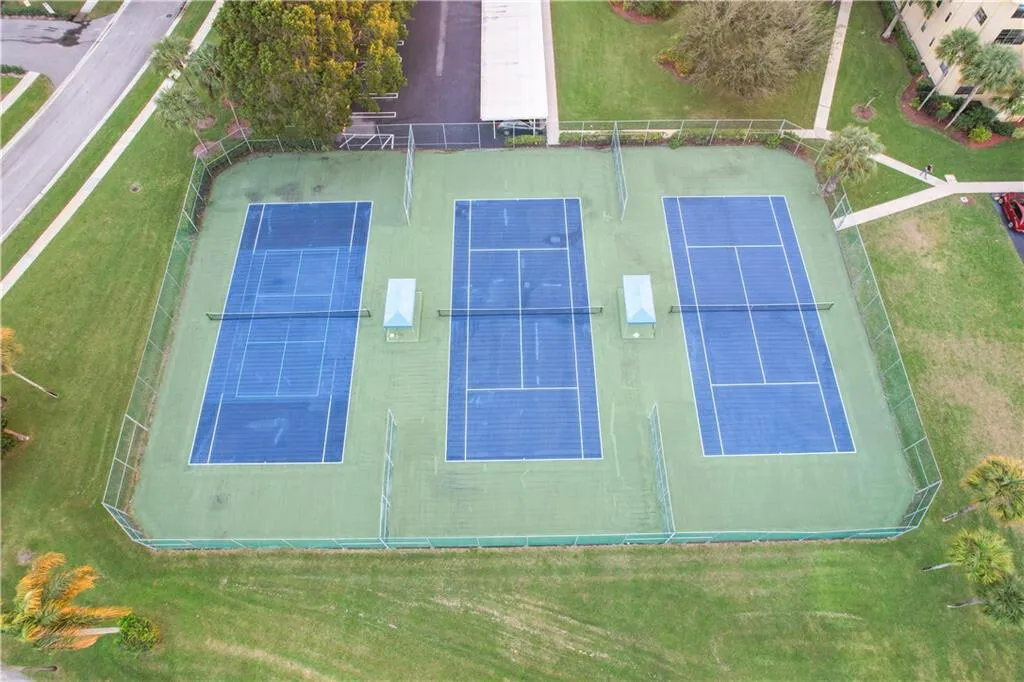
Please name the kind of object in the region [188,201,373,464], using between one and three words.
tennis court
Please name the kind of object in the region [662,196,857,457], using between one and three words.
tennis court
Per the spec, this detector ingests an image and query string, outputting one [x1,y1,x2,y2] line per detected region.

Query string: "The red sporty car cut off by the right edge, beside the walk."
[999,190,1024,231]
